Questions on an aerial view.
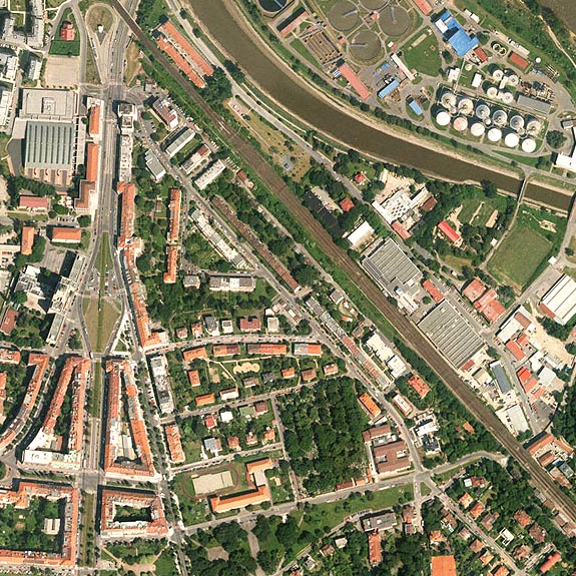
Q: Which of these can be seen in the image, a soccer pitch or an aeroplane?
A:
soccer pitch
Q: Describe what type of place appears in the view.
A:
residential area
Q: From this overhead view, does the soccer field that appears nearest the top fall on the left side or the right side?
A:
right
